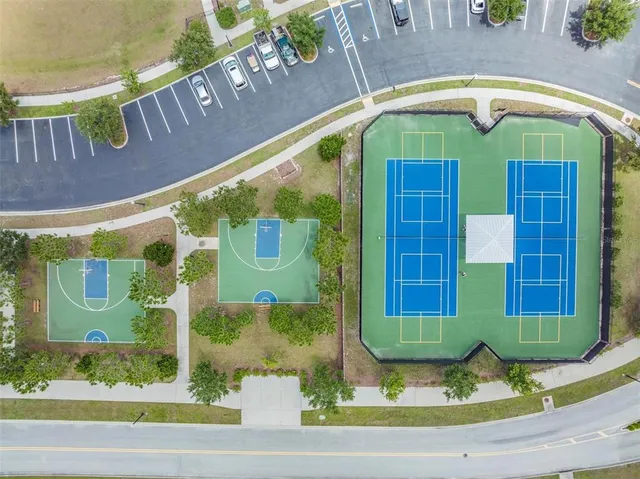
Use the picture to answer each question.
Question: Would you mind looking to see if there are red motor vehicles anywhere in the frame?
No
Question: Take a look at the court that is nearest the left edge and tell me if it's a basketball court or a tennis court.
basketball court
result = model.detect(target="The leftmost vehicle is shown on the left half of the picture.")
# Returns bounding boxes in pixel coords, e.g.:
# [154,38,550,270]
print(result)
[190,74,213,106]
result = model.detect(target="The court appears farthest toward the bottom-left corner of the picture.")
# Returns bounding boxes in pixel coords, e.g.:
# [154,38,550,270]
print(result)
[47,260,146,342]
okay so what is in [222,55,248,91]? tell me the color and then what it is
white car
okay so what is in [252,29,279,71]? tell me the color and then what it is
white truck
